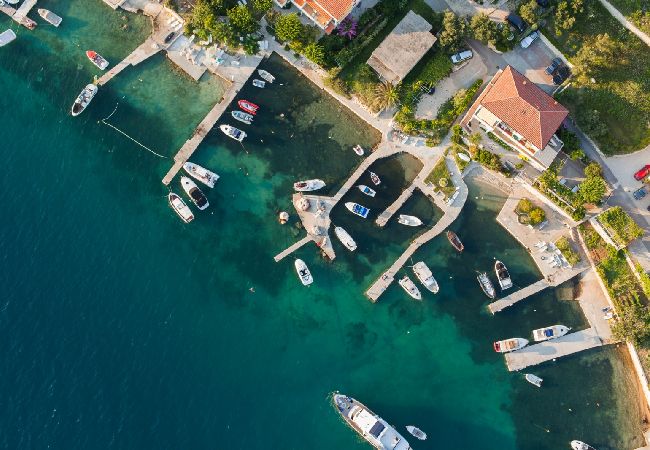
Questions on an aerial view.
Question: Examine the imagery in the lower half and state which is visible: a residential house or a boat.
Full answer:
It is a boat that can be seen in the lower half.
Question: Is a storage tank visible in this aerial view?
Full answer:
No, no storage tank is visible in the view.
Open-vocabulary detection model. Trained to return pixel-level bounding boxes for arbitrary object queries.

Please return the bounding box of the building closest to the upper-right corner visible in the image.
[461,65,569,171]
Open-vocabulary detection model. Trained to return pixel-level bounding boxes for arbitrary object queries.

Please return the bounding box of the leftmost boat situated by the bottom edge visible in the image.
[334,394,416,450]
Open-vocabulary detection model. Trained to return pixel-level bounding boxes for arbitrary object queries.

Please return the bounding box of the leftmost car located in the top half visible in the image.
[449,49,473,65]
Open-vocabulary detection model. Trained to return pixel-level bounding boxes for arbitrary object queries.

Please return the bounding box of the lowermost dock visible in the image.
[503,326,602,371]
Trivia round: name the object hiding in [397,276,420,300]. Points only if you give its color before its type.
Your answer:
white boat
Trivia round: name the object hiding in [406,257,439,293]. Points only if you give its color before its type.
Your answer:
white boat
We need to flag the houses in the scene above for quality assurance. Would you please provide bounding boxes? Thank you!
[461,65,569,171]
[366,10,437,89]
[265,0,361,51]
